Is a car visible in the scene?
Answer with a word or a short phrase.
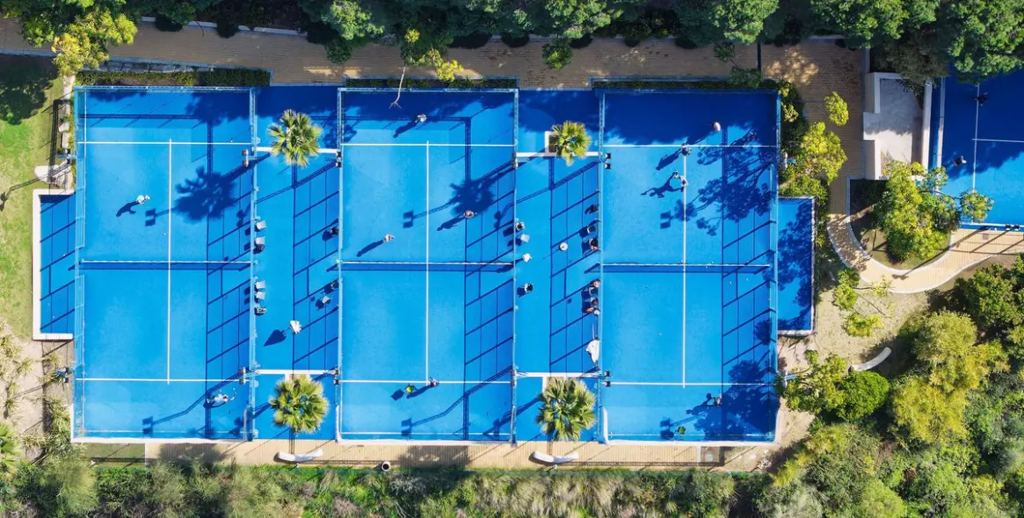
No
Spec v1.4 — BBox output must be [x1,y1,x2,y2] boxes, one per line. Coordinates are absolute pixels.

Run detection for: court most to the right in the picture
[928,46,1024,228]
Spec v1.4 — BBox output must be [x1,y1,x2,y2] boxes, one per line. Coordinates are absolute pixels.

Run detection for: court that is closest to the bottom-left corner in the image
[68,84,262,445]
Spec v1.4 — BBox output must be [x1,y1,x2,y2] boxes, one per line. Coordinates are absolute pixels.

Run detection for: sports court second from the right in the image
[591,87,784,448]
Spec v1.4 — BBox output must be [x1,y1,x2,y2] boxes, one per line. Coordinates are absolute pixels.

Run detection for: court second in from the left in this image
[334,86,520,446]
